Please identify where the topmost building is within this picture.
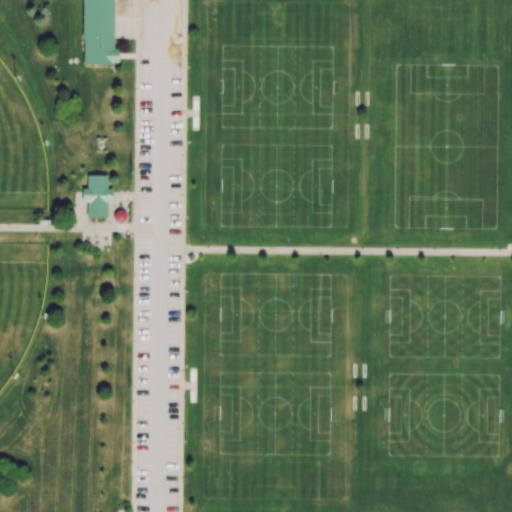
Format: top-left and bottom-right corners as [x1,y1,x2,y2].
[84,0,120,65]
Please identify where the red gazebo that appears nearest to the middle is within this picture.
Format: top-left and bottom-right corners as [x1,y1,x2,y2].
[114,210,128,222]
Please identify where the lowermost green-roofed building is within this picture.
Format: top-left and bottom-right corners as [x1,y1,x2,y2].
[83,176,114,218]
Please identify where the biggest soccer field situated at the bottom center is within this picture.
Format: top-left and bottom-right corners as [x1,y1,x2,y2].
[204,274,348,500]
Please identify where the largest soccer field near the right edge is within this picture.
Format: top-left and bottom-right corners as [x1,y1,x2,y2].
[395,65,499,230]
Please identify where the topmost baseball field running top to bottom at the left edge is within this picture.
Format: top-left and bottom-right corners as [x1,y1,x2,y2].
[0,58,48,209]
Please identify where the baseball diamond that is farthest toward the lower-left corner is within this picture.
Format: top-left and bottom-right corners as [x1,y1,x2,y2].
[0,244,48,390]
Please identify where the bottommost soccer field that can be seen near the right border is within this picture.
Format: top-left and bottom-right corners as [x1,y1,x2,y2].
[389,374,500,457]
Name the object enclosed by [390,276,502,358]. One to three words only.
soccer field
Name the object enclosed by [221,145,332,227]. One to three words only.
soccer field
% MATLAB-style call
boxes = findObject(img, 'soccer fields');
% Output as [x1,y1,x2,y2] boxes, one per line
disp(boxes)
[389,374,500,457]
[222,46,333,128]
[220,274,332,356]
[204,274,348,500]
[220,373,331,455]
[221,145,332,227]
[395,65,499,230]
[390,276,502,358]
[206,2,349,228]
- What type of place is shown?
sports ground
